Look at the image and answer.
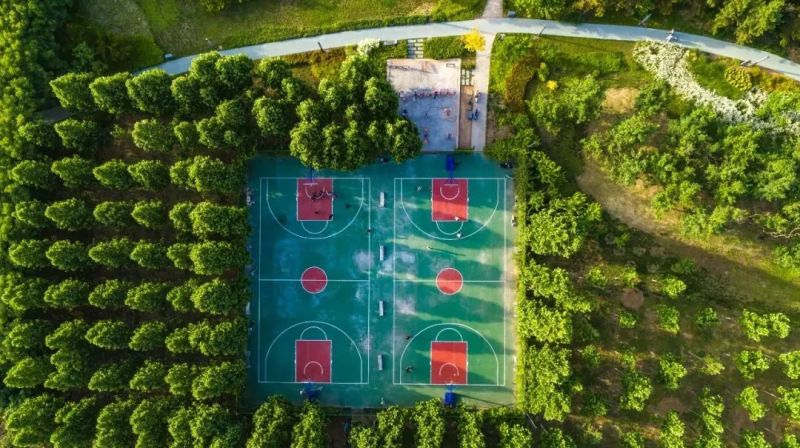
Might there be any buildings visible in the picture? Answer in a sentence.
No, this view has no building in it.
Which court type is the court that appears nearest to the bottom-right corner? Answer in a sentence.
From above, the court that appears nearest to the bottom-right corner can be identified as a basketball court.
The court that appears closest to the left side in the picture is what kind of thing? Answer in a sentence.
Looking closely, the court that appears closest to the left side is a basketball court.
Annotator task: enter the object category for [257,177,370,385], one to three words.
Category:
basketball court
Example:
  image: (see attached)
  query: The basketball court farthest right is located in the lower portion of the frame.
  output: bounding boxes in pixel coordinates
[393,177,505,385]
